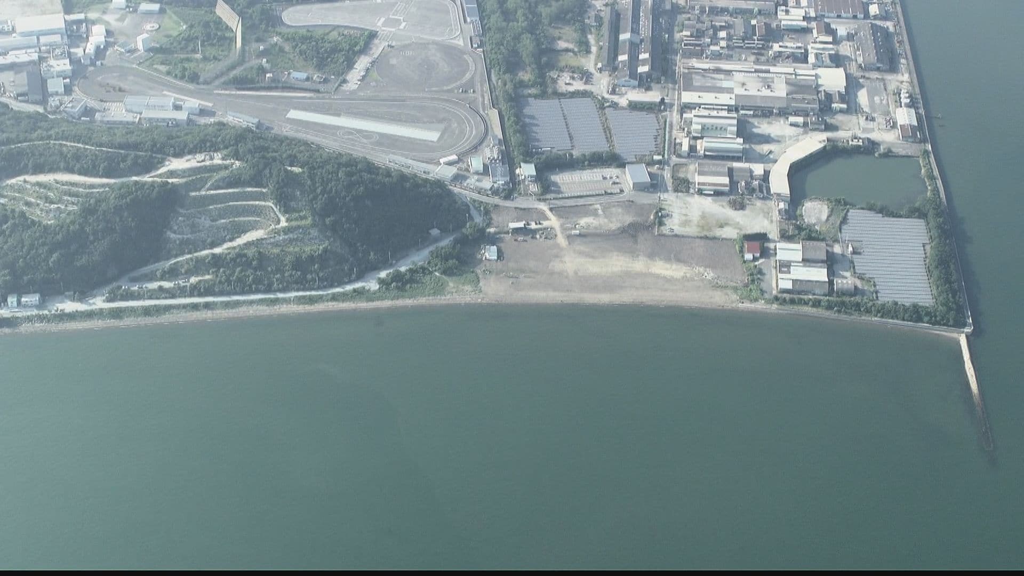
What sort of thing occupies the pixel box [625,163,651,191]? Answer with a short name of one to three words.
building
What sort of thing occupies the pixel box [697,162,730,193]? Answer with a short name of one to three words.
building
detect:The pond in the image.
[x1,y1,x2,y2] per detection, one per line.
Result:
[791,152,928,215]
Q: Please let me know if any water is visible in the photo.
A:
Yes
